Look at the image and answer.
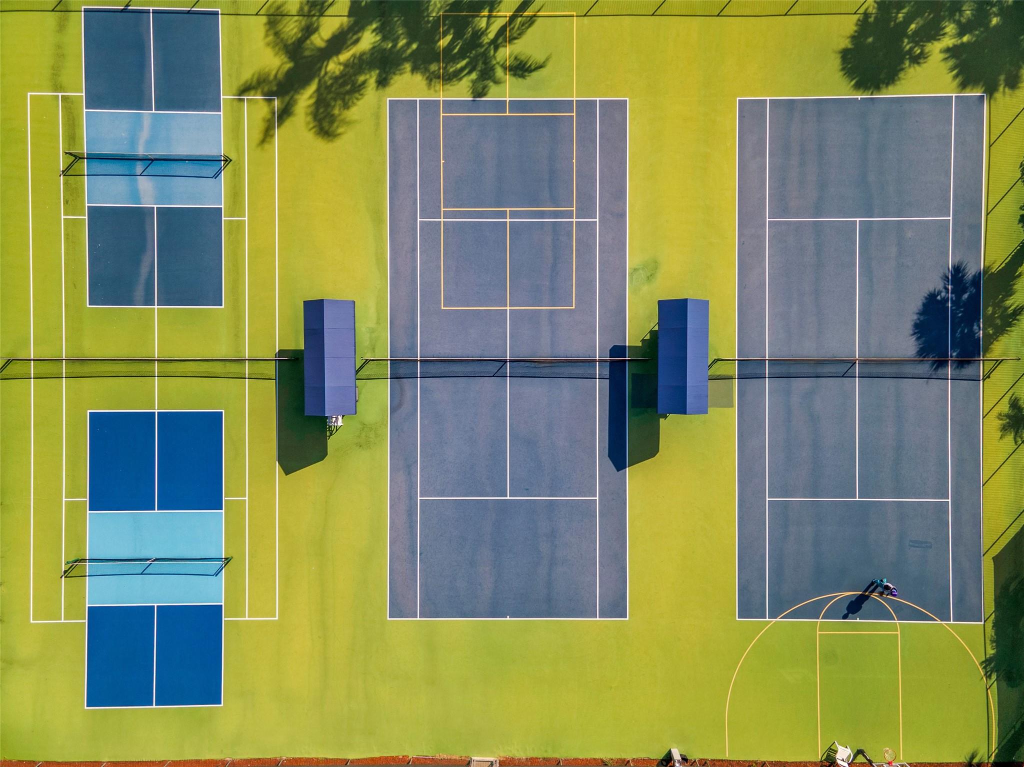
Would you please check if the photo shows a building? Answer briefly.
No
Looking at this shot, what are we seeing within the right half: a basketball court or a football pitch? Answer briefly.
basketball court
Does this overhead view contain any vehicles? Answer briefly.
No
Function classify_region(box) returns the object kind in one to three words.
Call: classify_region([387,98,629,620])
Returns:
tennis court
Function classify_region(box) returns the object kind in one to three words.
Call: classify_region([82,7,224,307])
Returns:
sports court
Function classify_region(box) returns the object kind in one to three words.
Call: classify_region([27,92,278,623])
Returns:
tennis court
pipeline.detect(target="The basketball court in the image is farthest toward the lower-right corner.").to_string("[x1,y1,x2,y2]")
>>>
[726,592,995,760]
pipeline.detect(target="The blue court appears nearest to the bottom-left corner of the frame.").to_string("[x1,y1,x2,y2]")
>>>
[85,410,224,709]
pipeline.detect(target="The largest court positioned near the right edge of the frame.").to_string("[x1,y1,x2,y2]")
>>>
[736,93,986,624]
